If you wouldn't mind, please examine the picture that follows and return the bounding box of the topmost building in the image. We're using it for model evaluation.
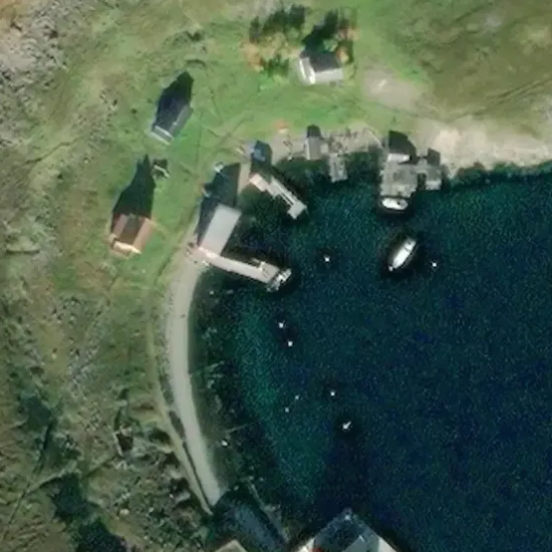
[301,58,344,91]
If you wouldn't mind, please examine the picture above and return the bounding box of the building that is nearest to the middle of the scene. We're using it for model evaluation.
[196,203,240,260]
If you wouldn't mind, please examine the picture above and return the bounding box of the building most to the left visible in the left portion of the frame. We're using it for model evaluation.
[109,216,152,264]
